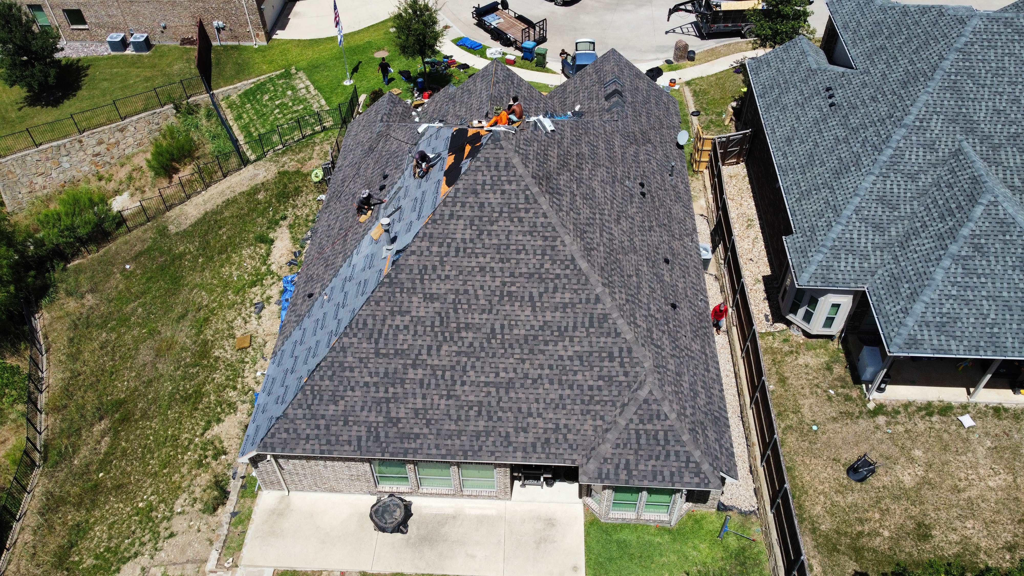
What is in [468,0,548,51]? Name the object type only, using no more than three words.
trailer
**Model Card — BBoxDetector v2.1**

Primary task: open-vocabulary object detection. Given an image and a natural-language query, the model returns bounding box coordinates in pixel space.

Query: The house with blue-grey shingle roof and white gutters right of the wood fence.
[745,0,1024,410]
